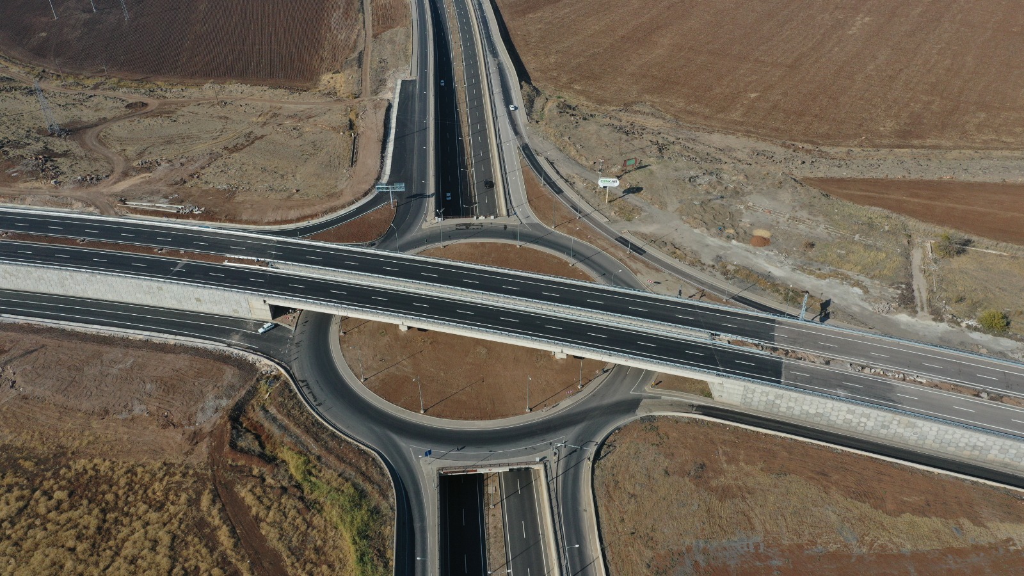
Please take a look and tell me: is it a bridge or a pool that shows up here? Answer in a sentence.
Visible in the photo is a bridge.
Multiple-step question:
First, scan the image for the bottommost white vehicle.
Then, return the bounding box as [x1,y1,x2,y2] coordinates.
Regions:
[256,322,275,334]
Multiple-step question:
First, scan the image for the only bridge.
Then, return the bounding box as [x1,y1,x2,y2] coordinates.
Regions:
[226,262,760,409]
